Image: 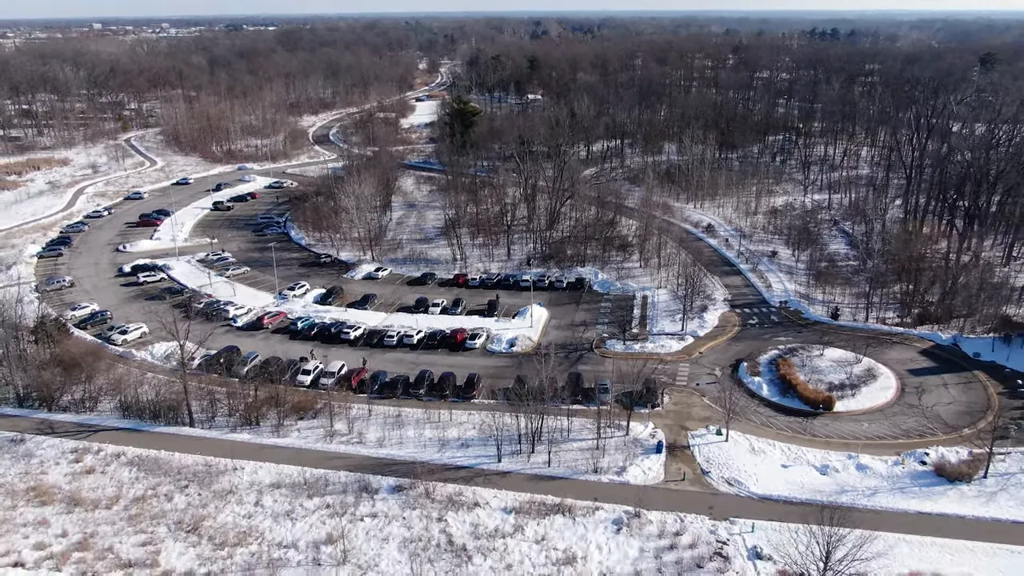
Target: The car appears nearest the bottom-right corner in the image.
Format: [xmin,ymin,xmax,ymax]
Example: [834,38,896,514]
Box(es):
[638,372,660,405]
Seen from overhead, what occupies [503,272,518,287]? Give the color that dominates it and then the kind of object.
black car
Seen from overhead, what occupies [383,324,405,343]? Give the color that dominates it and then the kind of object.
white car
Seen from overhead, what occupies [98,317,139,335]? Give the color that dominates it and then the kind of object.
gray car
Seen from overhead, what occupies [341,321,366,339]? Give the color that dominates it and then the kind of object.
white car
